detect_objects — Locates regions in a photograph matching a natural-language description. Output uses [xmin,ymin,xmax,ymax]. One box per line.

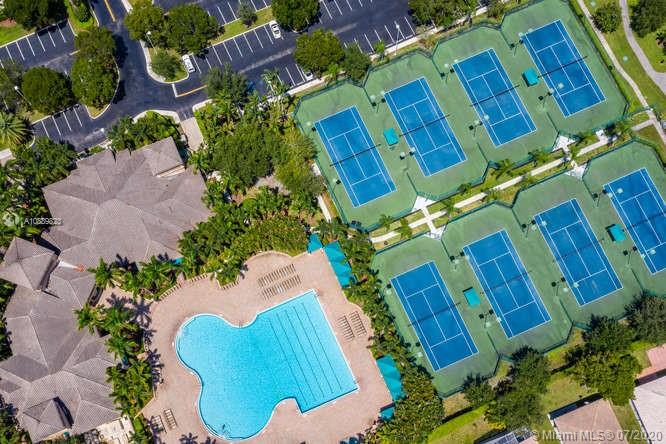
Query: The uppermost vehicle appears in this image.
[269,22,282,39]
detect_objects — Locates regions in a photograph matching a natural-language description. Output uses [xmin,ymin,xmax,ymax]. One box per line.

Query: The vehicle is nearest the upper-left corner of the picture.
[181,53,195,72]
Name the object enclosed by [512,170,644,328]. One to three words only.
tennis court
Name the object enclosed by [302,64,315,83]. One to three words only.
vehicle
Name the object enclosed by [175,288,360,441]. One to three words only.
swimming pool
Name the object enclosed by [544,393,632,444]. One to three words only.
house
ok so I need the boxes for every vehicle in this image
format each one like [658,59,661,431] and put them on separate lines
[181,53,195,72]
[302,64,315,83]
[269,22,282,39]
